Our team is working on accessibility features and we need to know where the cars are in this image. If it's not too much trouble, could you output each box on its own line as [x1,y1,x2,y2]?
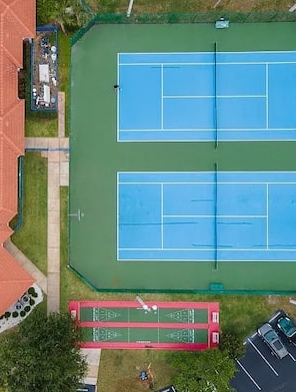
[257,323,293,363]
[276,313,296,347]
